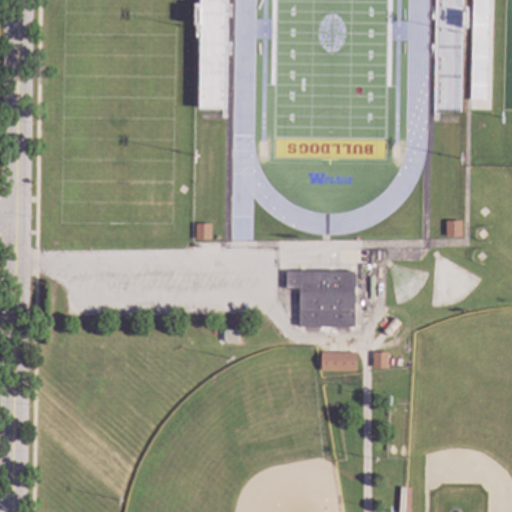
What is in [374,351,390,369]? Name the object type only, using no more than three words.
building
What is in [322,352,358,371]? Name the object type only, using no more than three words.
building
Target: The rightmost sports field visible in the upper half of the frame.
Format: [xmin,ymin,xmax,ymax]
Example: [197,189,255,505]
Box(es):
[257,0,408,213]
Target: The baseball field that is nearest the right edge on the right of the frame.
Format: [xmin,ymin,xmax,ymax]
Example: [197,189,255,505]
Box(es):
[407,308,512,512]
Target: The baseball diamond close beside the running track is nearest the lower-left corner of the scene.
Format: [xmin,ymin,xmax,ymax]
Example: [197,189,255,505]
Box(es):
[122,346,344,512]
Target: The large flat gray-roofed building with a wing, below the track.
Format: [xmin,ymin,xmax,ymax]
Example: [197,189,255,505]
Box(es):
[287,270,356,330]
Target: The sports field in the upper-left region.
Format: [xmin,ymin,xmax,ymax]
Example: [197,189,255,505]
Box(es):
[43,0,194,248]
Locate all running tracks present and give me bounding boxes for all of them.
[234,0,430,241]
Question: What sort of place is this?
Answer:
sports ground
